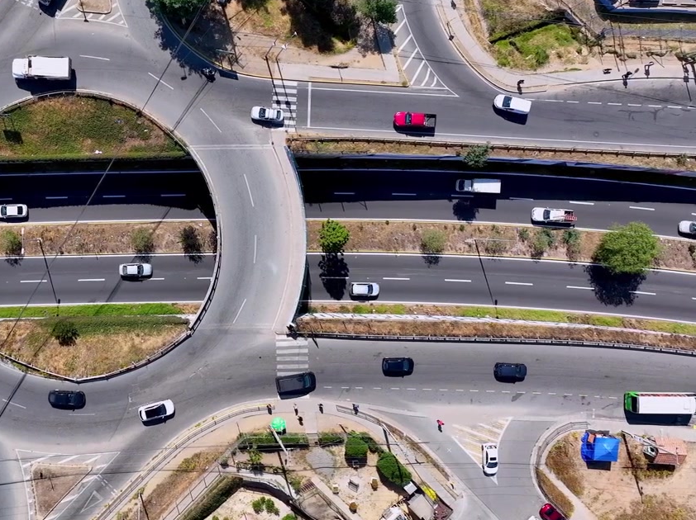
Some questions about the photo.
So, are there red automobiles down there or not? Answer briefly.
Yes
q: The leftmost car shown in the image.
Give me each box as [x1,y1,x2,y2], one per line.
[0,204,29,220]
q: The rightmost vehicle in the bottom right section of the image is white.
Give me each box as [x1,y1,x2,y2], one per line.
[616,391,696,416]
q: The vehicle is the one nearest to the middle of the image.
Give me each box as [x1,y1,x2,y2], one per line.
[348,283,378,298]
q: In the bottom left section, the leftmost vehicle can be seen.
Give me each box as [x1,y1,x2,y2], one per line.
[50,390,86,408]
